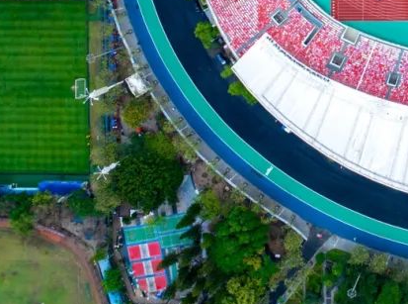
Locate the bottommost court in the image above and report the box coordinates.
[136,274,170,294]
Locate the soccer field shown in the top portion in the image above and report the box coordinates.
[0,0,100,184]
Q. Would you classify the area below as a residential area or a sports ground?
sports ground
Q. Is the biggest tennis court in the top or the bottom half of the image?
bottom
